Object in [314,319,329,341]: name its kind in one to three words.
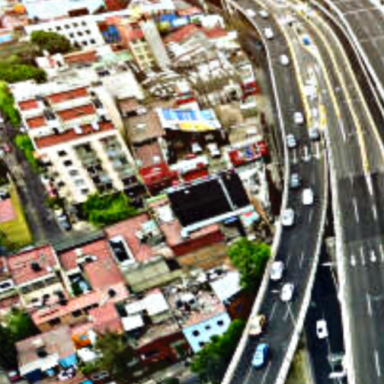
car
